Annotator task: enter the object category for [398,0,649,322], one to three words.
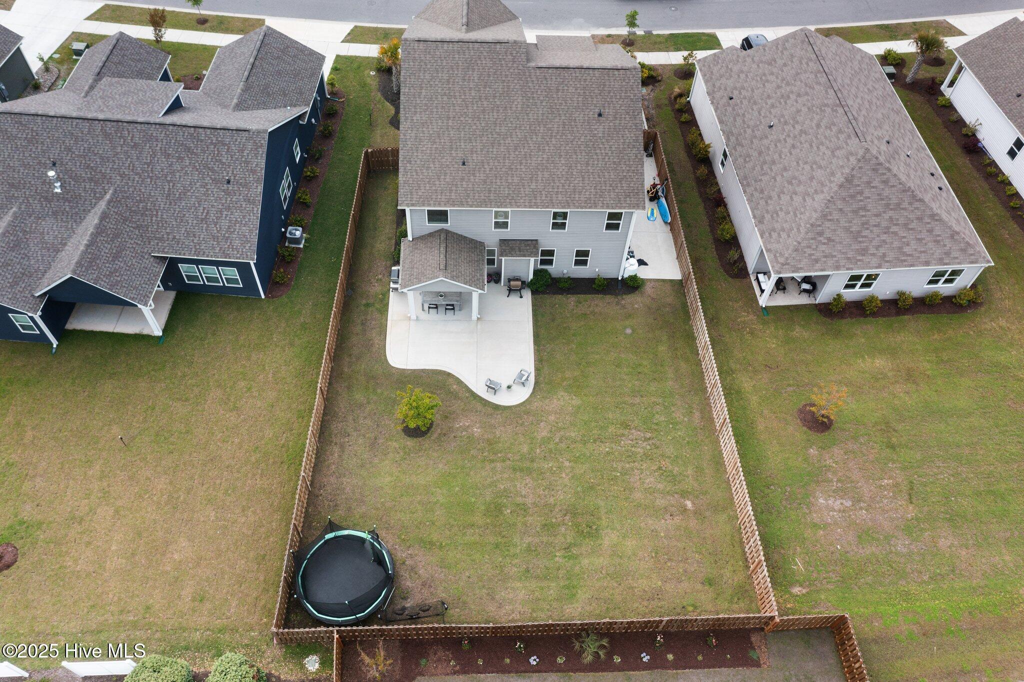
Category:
house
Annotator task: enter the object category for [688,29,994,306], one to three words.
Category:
house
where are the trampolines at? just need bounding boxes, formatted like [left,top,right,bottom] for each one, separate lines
[290,516,394,628]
